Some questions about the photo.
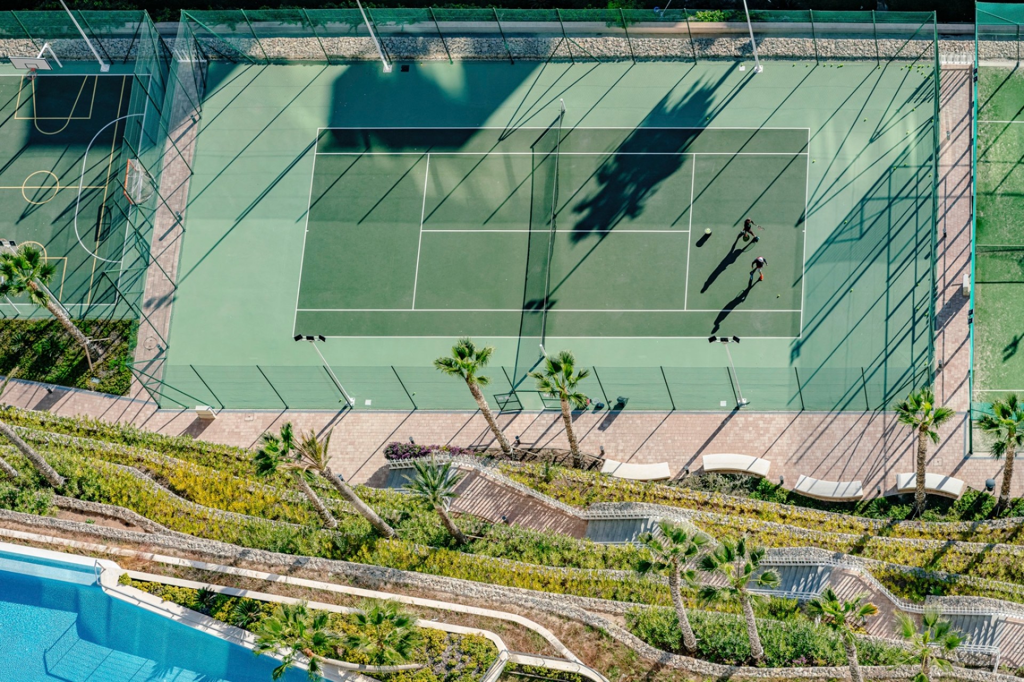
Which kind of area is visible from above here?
sports ground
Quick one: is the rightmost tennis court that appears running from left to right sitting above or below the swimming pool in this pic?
above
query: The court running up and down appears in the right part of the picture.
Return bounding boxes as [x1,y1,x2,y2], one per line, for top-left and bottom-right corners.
[972,59,1024,455]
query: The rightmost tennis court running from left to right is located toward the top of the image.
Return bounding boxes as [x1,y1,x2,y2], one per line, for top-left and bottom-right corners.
[155,60,938,411]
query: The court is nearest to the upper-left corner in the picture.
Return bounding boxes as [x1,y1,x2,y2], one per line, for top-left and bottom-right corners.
[0,61,176,322]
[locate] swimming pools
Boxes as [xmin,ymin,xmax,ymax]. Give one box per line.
[0,544,376,682]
